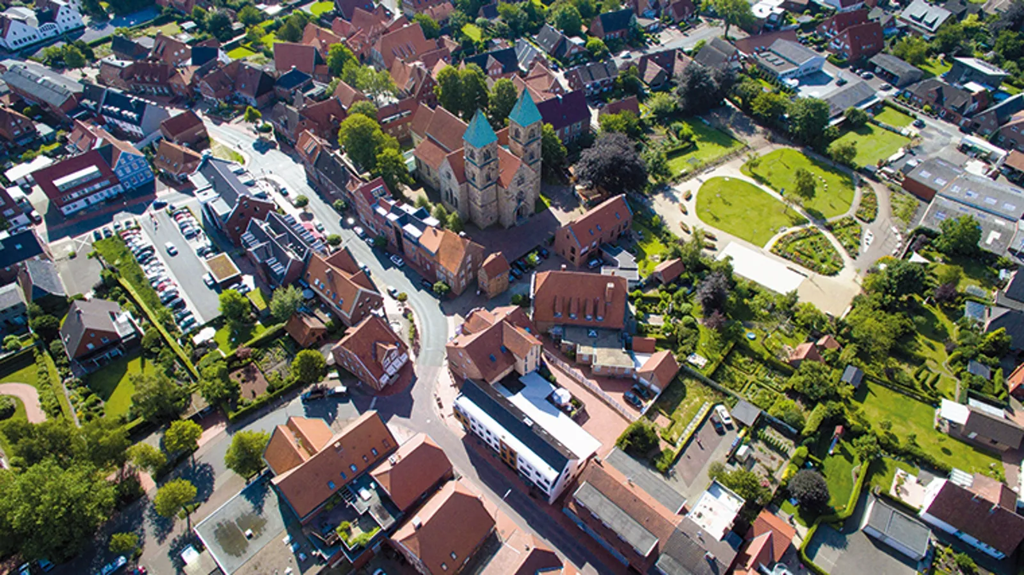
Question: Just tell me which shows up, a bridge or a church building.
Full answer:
Visible in the photo is a church building.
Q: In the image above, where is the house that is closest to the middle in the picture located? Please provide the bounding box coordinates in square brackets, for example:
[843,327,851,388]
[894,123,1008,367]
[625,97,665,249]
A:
[474,251,511,295]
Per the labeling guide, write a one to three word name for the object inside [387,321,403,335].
umbrella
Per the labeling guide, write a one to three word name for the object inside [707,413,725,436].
car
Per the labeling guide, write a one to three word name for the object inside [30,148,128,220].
building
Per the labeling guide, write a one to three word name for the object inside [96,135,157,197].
house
